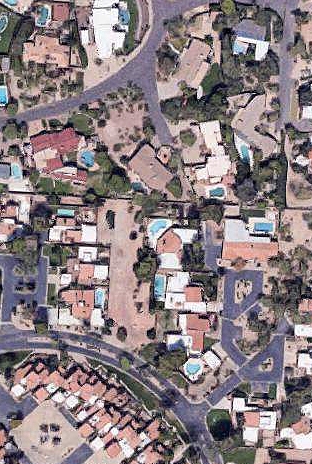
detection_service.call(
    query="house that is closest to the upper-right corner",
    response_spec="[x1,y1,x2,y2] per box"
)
[231,18,268,60]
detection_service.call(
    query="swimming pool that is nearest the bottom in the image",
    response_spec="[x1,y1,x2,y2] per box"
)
[182,358,204,379]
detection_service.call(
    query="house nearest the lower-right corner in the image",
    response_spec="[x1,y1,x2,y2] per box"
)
[280,402,312,450]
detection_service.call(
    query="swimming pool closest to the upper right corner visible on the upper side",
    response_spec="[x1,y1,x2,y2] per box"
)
[230,41,248,56]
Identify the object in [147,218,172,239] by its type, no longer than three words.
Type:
swimming pool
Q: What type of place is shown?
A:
residential area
